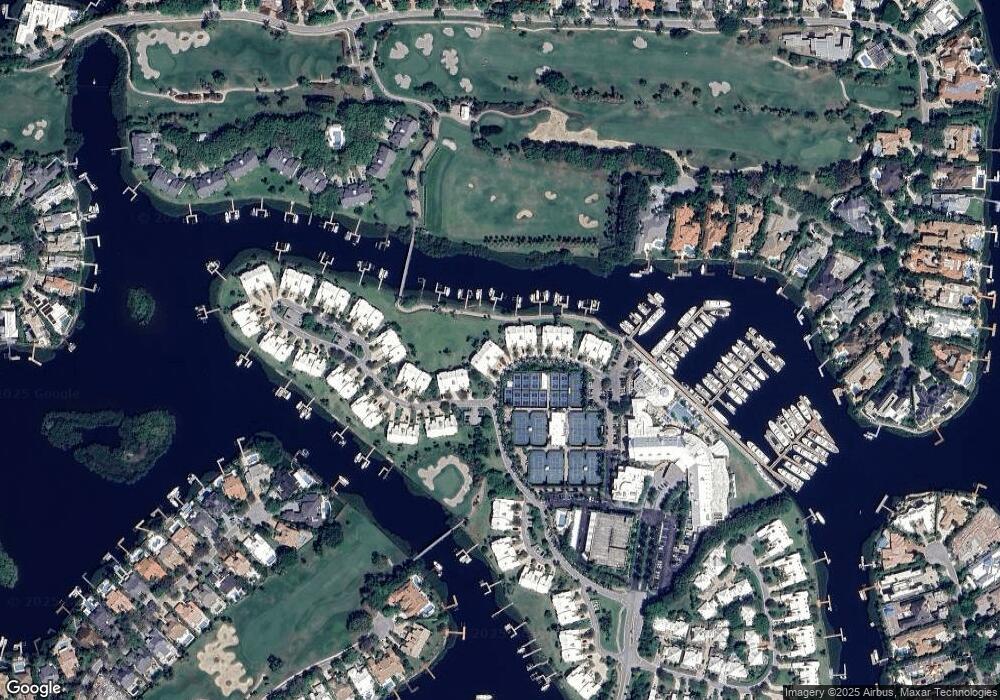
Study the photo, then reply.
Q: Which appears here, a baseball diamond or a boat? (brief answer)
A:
boat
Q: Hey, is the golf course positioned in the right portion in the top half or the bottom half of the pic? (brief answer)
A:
top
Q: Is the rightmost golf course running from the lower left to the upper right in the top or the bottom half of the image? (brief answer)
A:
bottom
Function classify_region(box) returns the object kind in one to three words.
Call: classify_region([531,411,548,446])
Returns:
tennis court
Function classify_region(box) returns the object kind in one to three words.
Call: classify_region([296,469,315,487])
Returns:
swimming pool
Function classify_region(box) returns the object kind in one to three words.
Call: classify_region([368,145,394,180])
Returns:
house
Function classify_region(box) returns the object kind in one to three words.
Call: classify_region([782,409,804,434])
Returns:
boat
